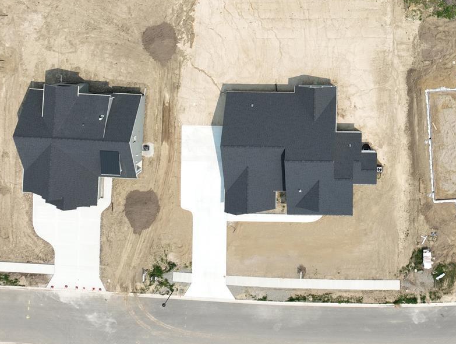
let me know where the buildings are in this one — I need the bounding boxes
[221,86,377,216]
[12,83,144,212]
